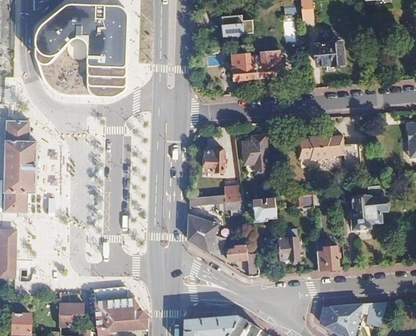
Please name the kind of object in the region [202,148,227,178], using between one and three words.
house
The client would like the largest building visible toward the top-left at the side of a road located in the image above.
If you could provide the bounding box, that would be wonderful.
[34,5,126,95]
